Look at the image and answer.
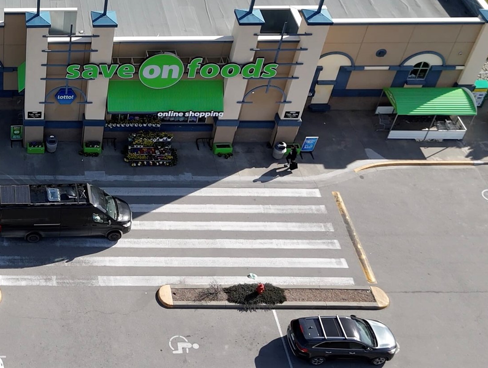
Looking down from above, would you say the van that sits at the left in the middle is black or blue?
black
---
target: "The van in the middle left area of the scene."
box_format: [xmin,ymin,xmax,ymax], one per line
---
[0,184,132,241]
